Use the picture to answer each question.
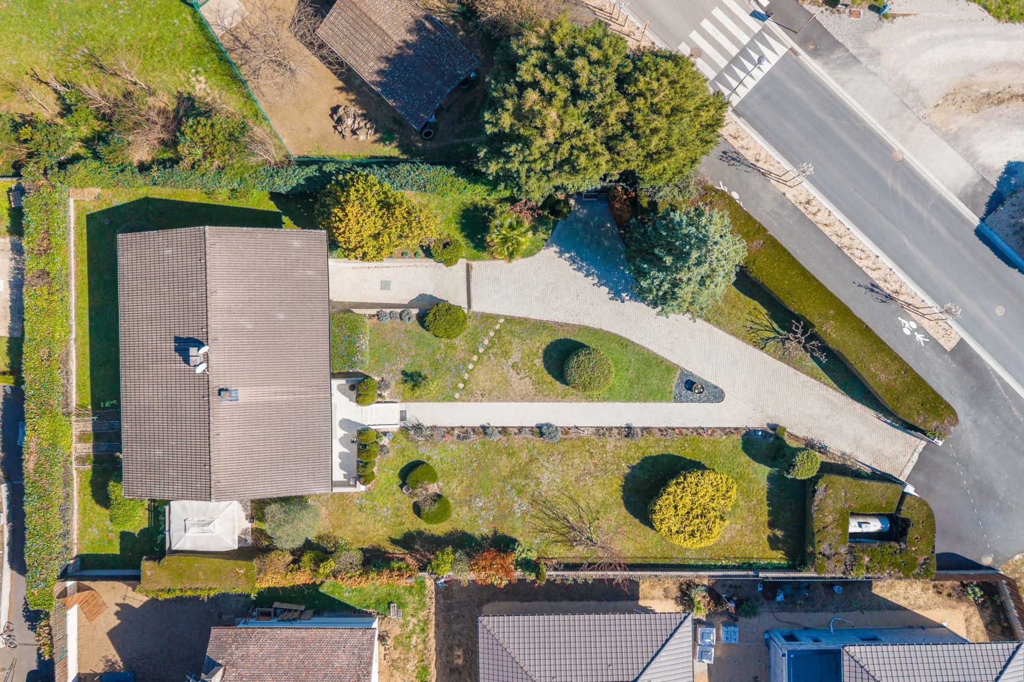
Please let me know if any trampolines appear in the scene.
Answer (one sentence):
No, the scene contains no trampoline.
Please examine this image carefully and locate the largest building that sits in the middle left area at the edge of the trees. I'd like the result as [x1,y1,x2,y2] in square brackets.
[116,226,334,502]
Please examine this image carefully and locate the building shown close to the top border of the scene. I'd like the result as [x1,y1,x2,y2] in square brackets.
[315,0,482,132]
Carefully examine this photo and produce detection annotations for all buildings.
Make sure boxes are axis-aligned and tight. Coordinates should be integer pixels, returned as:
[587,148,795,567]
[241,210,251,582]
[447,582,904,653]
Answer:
[315,0,482,132]
[201,616,380,682]
[475,602,695,682]
[116,226,334,502]
[768,628,1024,682]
